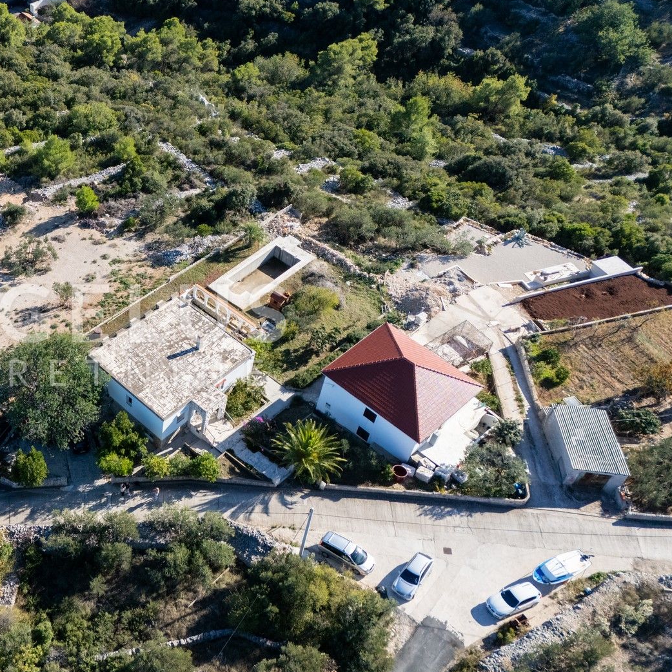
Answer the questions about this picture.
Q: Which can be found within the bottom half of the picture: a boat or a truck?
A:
boat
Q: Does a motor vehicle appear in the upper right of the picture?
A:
No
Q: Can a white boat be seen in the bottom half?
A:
Yes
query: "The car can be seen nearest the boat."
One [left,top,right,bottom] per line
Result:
[485,580,545,618]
